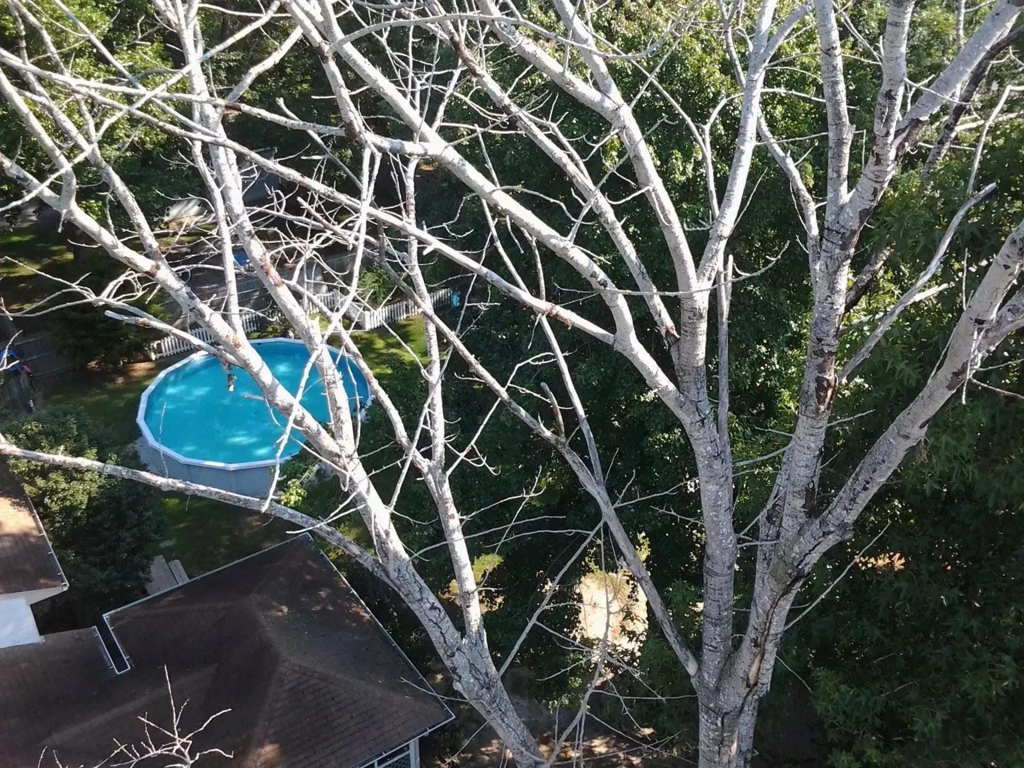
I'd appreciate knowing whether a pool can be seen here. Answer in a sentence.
Yes, the image includes a pool.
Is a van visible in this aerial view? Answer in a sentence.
No, no van is visible in the view.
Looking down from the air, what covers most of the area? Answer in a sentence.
Most of the picture is covered by trees.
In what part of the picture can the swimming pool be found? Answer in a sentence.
The swimming pool appears toward the left of the photo.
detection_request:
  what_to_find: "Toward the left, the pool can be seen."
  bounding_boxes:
[135,338,375,499]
